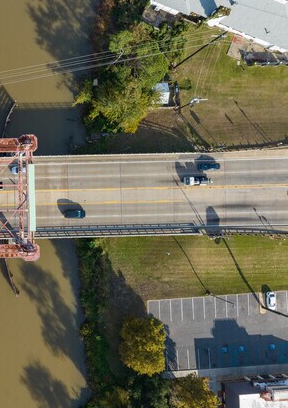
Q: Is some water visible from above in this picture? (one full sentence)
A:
Yes, there's water in this view.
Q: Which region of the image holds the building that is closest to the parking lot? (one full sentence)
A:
The building that is closest to the parking lot sits in the bottom right section of the image.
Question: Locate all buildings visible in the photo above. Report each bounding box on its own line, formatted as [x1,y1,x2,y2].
[143,0,288,56]
[145,84,166,100]
[222,366,288,408]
